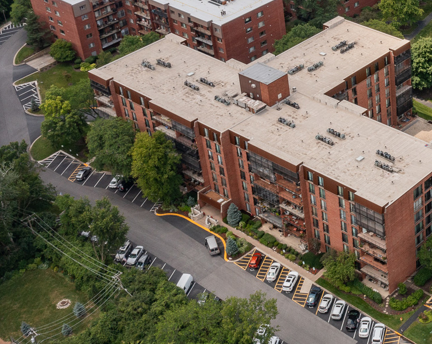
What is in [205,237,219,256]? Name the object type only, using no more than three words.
car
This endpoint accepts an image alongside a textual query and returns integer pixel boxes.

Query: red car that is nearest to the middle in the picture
[247,252,262,271]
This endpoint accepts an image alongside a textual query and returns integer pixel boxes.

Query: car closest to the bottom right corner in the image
[371,324,386,344]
